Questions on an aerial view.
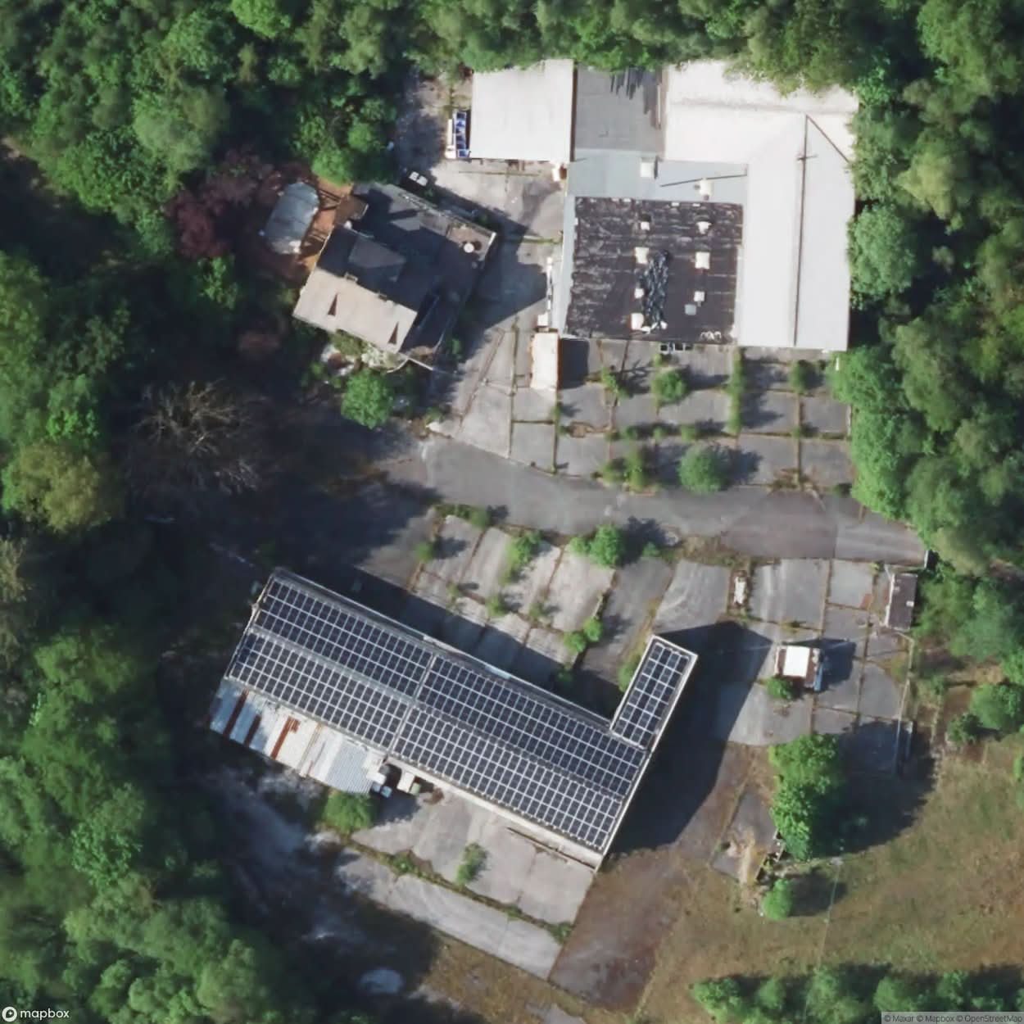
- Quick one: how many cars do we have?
zero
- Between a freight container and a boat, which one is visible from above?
freight container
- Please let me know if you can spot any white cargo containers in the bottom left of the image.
No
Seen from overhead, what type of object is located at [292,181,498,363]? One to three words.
house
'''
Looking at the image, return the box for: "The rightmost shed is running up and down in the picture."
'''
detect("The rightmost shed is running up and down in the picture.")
[883,573,918,631]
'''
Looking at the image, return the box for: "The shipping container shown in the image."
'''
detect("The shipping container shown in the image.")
[531,333,559,394]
